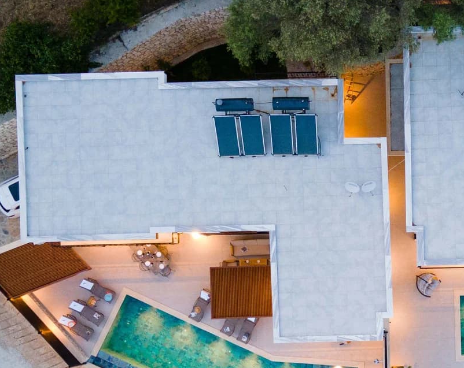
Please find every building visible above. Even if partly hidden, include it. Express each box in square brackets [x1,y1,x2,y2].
[16,71,394,343]
[402,25,464,268]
